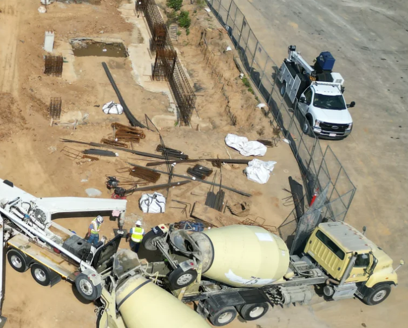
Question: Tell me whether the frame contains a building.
No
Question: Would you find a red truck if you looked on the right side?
No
